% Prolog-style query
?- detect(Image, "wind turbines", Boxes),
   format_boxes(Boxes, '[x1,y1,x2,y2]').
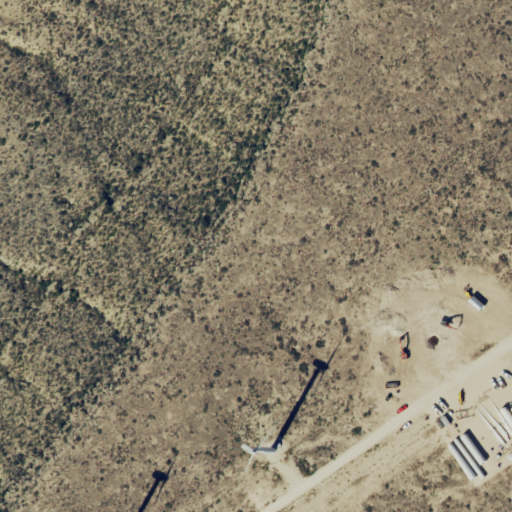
[239,418,280,492]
